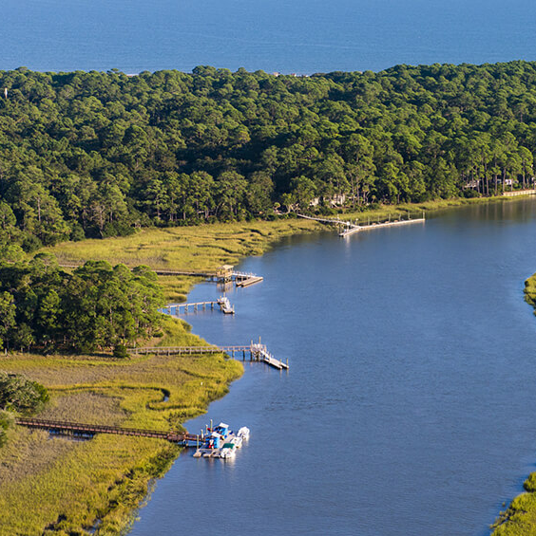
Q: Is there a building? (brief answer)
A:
Yes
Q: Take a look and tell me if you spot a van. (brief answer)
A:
No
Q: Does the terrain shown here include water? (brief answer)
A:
Yes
